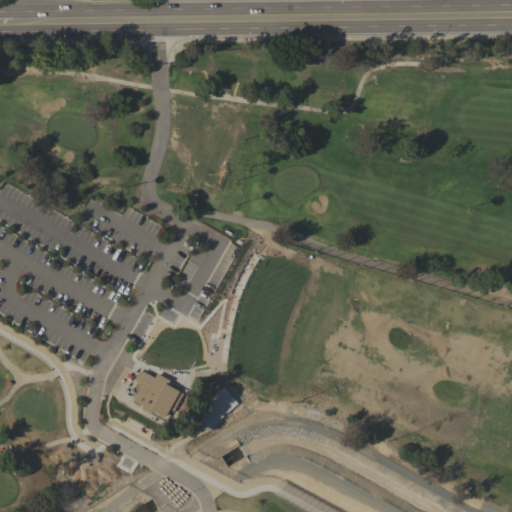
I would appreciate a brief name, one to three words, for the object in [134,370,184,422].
building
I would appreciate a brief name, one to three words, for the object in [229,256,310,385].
sports field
